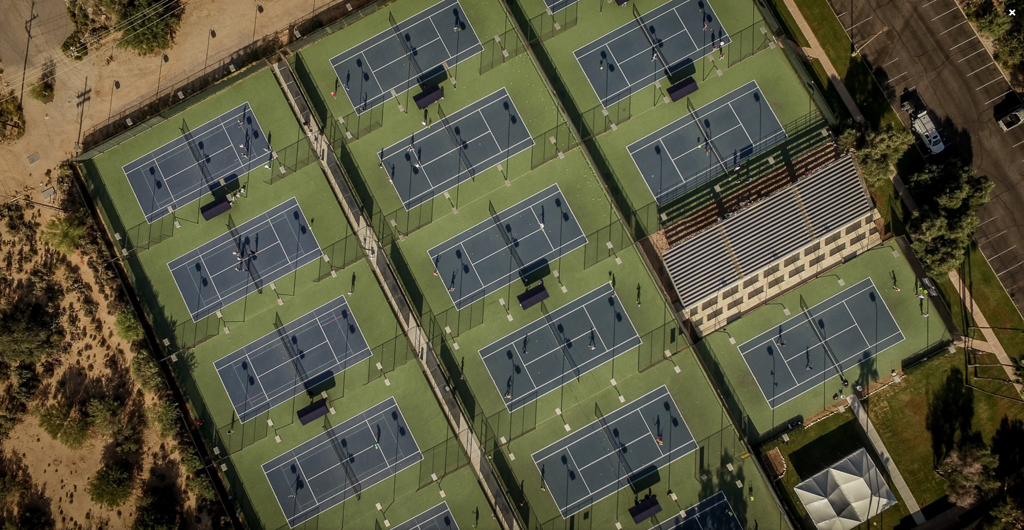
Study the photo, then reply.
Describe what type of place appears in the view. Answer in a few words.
sports ground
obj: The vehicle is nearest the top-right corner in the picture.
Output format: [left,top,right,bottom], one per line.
[999,107,1024,130]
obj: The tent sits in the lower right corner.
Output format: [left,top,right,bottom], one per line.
[787,445,898,530]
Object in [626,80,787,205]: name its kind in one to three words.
tennis court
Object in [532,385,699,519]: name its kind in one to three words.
tennis court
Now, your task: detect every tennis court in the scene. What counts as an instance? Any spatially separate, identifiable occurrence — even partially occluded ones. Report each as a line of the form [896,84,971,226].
[262,397,424,528]
[650,491,743,530]
[532,385,699,519]
[545,0,578,14]
[573,0,732,108]
[167,197,323,322]
[626,80,787,205]
[428,184,588,310]
[391,501,459,530]
[330,0,484,115]
[123,102,276,224]
[738,277,906,409]
[479,282,642,413]
[214,295,372,424]
[378,88,535,211]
